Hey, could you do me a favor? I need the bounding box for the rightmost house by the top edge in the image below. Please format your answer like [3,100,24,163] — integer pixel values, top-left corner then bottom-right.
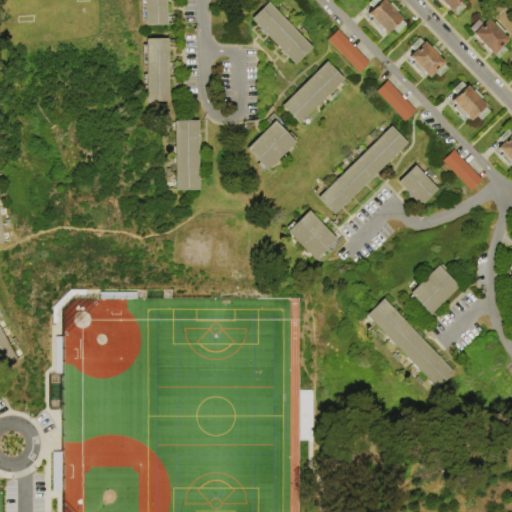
[474,18,510,56]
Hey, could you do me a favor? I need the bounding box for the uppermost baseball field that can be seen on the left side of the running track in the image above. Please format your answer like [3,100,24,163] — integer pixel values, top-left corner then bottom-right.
[63,299,141,379]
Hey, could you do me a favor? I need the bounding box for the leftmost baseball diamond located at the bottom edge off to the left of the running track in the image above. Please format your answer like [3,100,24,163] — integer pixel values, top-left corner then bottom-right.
[64,434,170,512]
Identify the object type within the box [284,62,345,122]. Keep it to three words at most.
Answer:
building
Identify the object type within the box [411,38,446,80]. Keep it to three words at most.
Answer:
house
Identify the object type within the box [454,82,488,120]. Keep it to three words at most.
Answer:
house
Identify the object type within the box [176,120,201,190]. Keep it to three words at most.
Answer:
building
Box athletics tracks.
[262,298,300,512]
